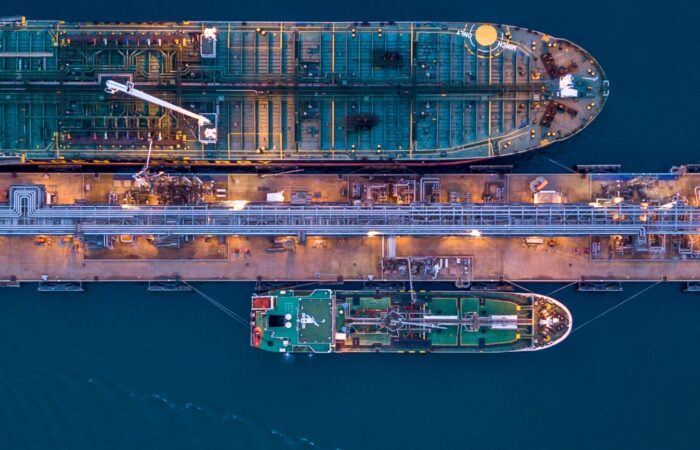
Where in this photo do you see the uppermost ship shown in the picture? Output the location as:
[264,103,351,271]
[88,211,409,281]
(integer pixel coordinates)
[0,15,610,164]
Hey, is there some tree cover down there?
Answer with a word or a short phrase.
No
